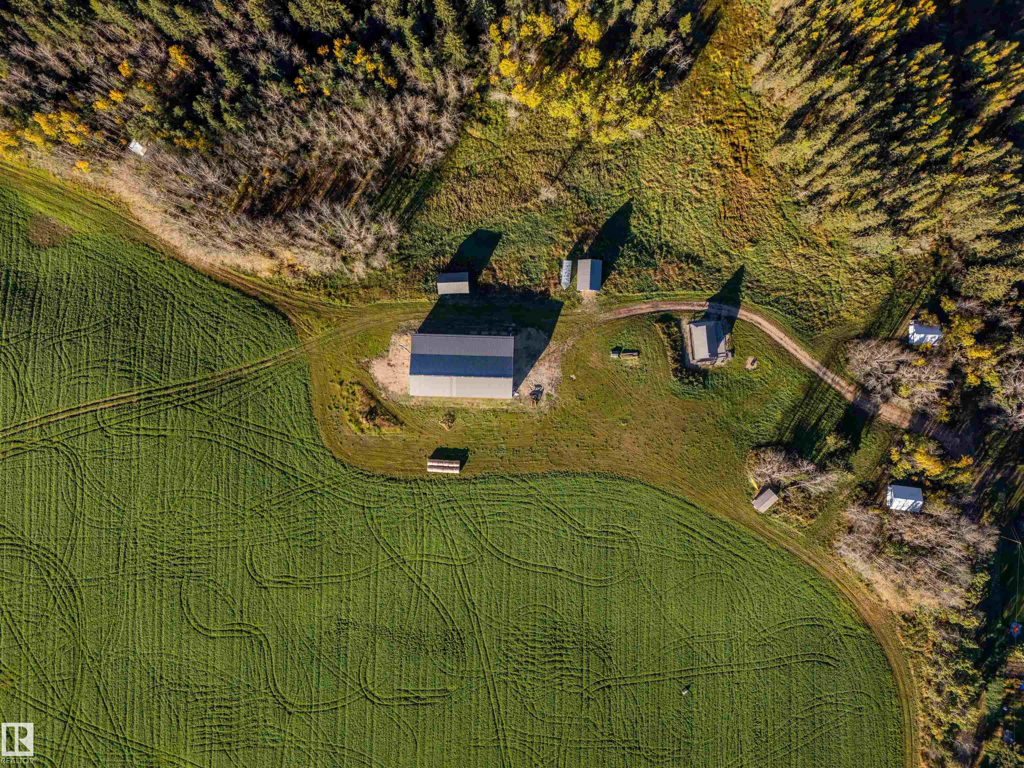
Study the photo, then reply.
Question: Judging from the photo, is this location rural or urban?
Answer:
rural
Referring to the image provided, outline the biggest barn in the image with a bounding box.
[409,333,514,398]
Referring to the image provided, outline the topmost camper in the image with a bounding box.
[129,140,151,158]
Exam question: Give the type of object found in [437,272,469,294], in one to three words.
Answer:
shed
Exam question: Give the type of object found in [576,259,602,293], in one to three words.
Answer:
shed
